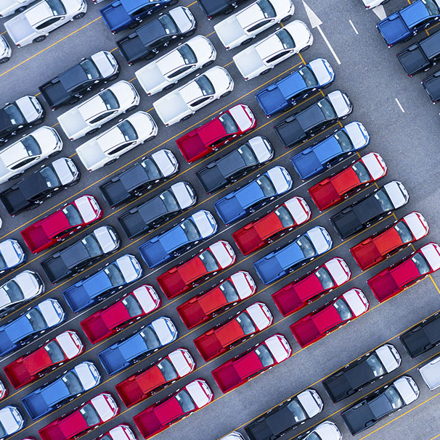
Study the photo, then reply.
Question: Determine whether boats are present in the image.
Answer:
No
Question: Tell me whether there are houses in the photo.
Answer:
No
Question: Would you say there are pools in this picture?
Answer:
No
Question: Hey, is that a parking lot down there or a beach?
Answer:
parking lot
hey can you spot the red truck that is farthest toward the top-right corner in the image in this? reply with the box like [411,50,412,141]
[308,156,384,213]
